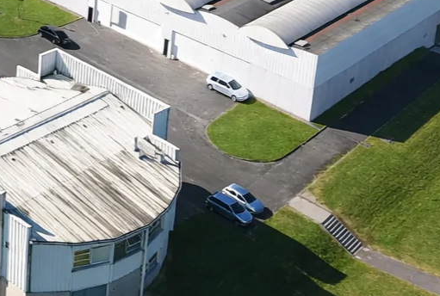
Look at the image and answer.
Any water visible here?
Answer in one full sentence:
No, there is no water in the image.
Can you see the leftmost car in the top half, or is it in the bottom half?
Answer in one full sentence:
It is in the top half that the leftmost car appears.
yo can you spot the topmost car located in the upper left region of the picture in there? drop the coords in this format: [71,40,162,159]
[38,29,75,48]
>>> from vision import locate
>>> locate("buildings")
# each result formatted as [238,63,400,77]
[0,45,184,296]
[52,0,440,119]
